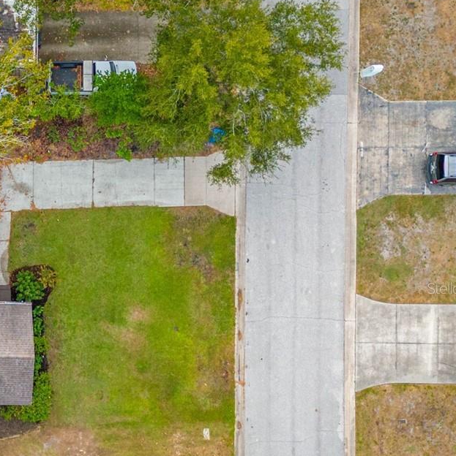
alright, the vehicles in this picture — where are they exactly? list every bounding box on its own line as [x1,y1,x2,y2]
[45,55,139,97]
[426,152,456,186]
